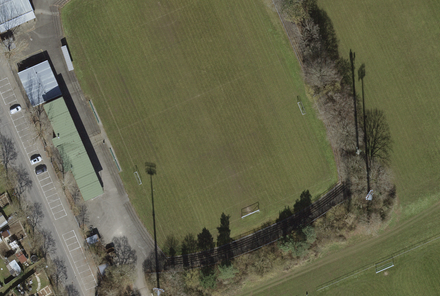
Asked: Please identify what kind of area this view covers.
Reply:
sports ground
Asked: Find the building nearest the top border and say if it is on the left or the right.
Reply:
left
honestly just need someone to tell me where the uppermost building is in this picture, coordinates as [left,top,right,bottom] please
[0,0,36,32]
